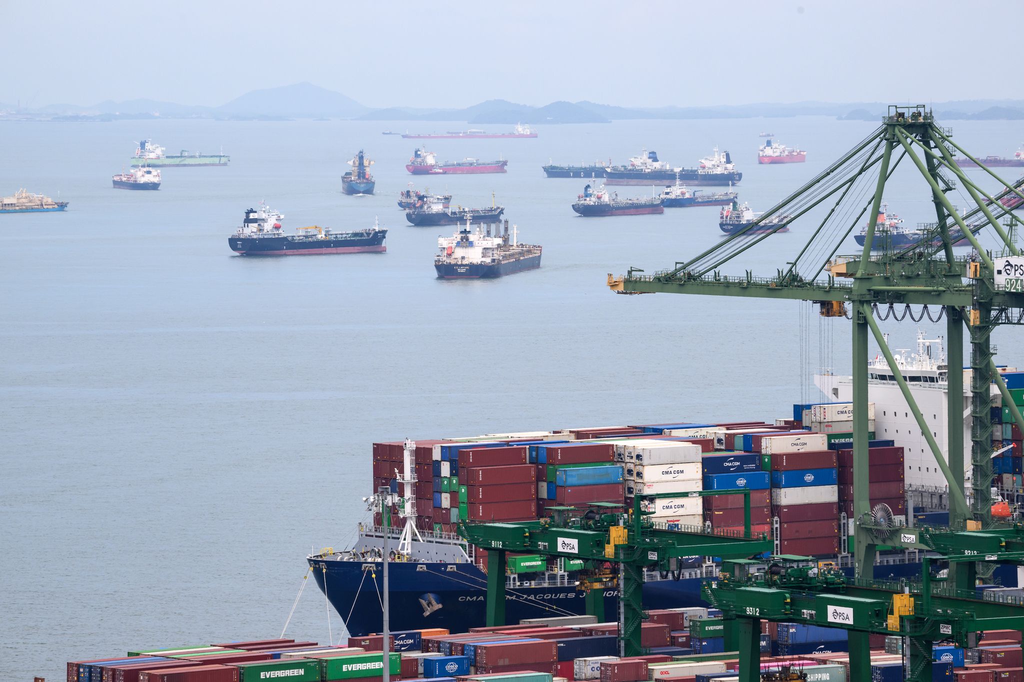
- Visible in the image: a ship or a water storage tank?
ship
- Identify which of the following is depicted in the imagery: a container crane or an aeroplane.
container crane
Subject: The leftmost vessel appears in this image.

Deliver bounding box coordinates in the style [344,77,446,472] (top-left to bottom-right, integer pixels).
[0,187,67,213]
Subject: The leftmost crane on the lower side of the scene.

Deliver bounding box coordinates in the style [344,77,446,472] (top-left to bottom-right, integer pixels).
[449,487,784,649]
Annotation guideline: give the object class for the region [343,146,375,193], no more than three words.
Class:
ship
